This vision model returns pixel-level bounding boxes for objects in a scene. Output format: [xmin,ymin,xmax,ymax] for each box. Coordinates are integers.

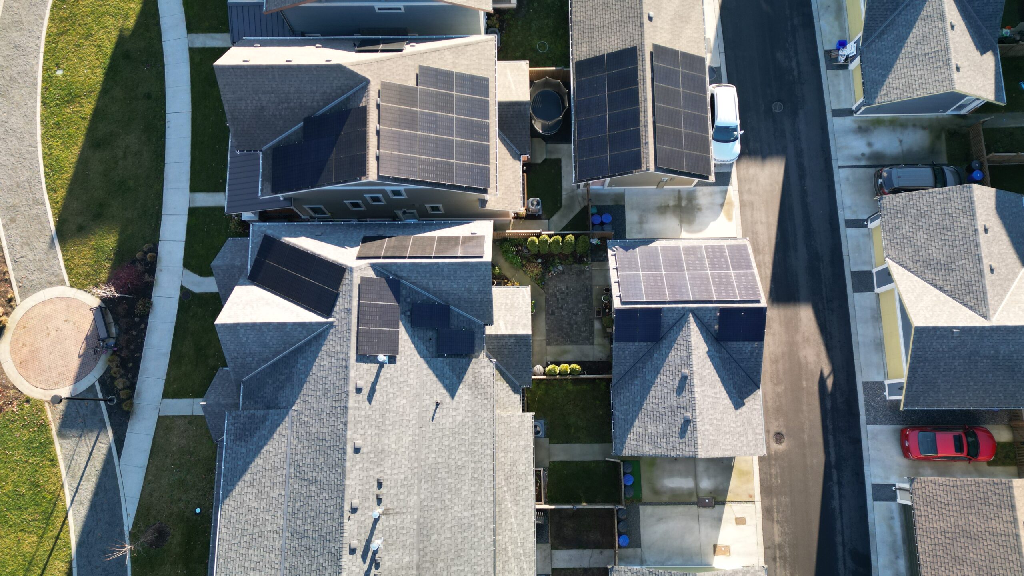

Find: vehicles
[711,80,746,164]
[897,420,998,468]
[871,158,962,197]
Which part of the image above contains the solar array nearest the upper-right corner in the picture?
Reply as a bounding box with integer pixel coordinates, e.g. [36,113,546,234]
[653,44,711,177]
